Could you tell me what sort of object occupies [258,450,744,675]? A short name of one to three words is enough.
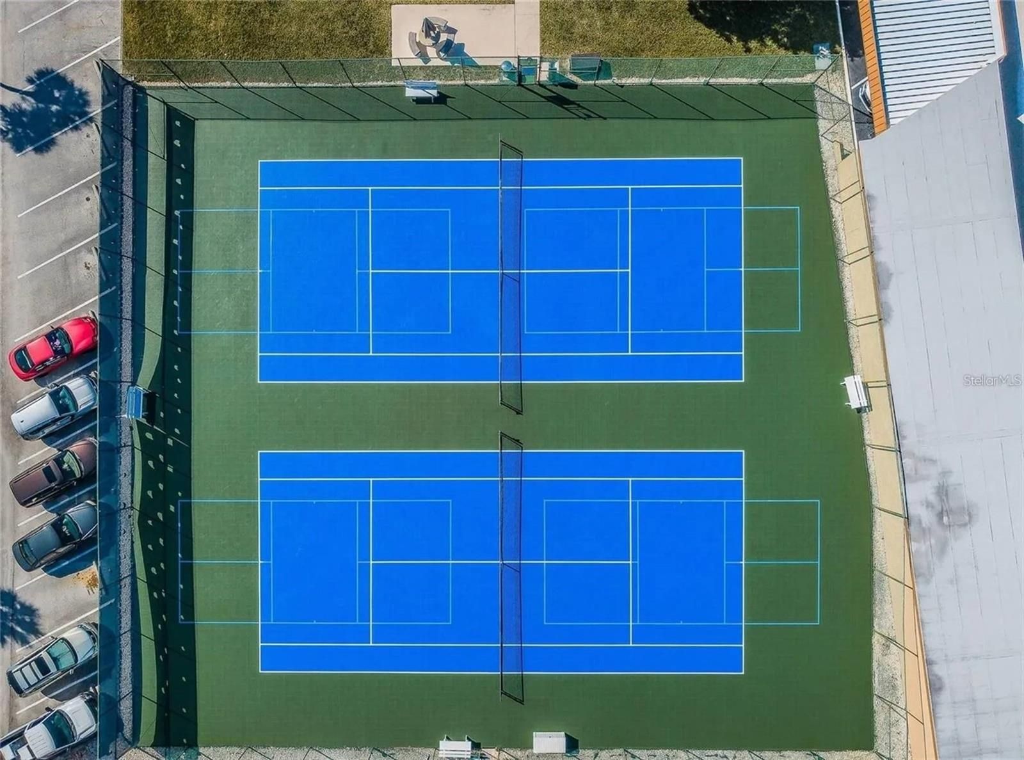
tennis court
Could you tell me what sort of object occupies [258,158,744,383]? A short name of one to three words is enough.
tennis court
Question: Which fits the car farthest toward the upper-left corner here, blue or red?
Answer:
red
